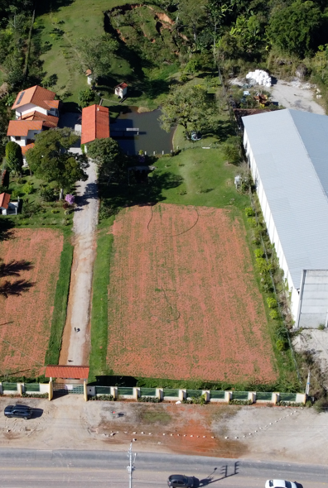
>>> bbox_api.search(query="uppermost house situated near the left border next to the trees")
[3,87,65,164]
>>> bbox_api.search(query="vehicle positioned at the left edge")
[4,403,33,420]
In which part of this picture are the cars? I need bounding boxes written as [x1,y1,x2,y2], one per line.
[167,471,196,488]
[4,403,33,420]
[265,478,299,488]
